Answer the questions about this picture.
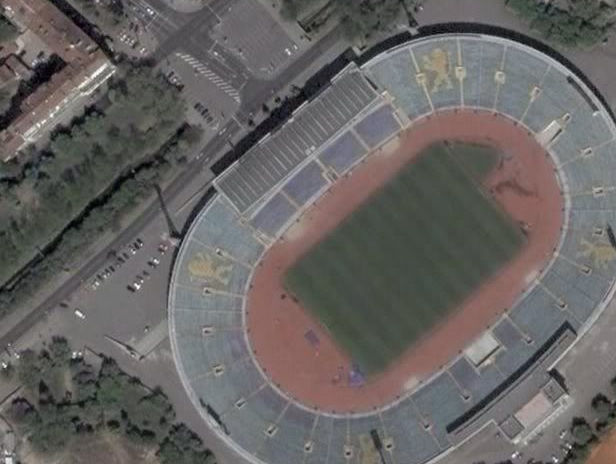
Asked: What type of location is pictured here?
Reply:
sports ground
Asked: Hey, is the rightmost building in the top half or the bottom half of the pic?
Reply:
bottom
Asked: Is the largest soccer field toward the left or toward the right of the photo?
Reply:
right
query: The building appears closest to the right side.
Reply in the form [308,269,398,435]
[498,377,575,446]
